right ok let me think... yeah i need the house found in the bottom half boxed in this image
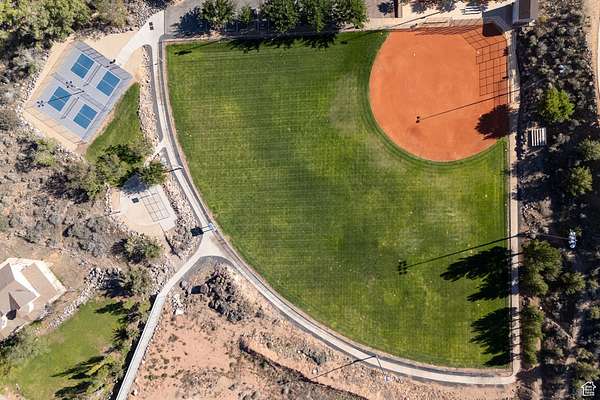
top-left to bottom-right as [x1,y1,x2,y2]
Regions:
[0,257,66,334]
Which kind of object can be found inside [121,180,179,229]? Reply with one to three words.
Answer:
basketball court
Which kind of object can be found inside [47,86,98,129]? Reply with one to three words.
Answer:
sports court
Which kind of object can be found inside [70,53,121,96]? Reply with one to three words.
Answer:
sports court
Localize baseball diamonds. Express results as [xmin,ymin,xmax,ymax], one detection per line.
[167,29,508,367]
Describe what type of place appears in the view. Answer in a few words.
sports ground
